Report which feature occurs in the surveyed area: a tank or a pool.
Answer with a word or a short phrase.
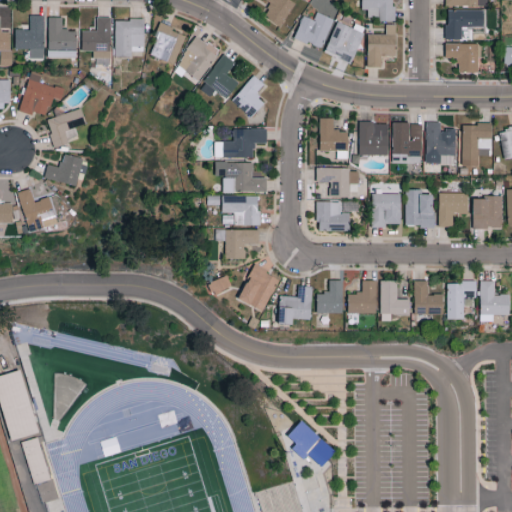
pool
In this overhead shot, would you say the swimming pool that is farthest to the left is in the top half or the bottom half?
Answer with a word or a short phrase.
top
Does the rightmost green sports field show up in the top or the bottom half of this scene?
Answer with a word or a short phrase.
bottom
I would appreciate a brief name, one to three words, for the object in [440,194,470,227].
house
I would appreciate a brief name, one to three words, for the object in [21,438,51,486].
building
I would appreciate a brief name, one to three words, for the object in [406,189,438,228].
house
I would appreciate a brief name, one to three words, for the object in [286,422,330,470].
building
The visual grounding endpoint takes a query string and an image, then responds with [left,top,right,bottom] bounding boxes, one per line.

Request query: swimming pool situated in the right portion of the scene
[360,156,390,174]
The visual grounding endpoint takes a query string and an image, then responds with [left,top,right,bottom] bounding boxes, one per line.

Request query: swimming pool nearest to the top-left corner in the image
[64,85,90,112]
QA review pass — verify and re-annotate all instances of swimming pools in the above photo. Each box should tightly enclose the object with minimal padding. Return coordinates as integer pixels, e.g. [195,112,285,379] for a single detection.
[360,156,390,174]
[196,133,214,160]
[64,85,90,112]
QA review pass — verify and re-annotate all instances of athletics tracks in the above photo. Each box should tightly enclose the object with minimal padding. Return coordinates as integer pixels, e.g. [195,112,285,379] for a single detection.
[47,378,262,512]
